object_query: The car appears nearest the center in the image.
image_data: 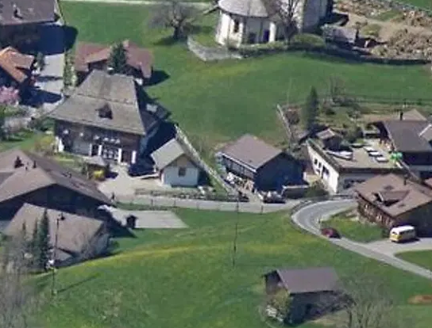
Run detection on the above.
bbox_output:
[231,193,253,205]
